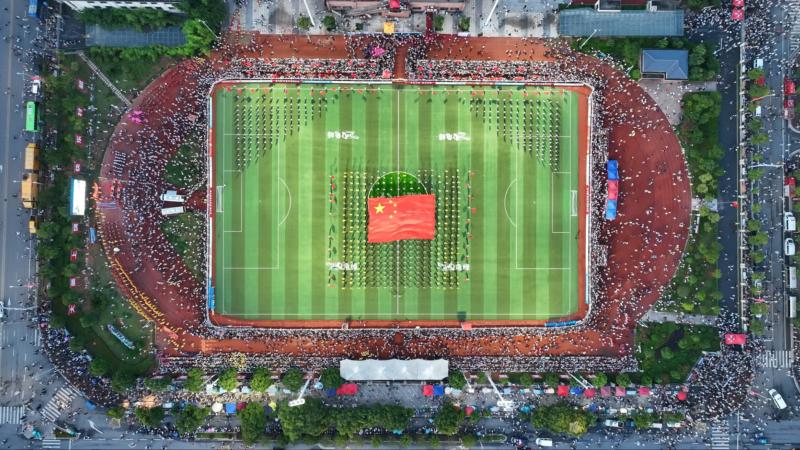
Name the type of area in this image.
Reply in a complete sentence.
It's a sports ground.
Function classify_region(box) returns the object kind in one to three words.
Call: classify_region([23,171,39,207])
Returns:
vehicle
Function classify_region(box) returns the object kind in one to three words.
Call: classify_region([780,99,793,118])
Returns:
vehicle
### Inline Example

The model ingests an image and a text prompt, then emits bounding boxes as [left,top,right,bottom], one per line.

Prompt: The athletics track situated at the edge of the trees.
[94,38,693,355]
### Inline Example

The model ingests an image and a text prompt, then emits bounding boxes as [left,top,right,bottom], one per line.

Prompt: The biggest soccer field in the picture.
[210,81,591,327]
